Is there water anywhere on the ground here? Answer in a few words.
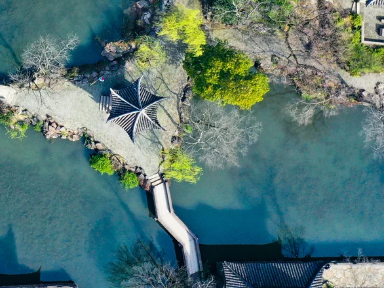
Yes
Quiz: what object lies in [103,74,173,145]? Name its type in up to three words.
building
